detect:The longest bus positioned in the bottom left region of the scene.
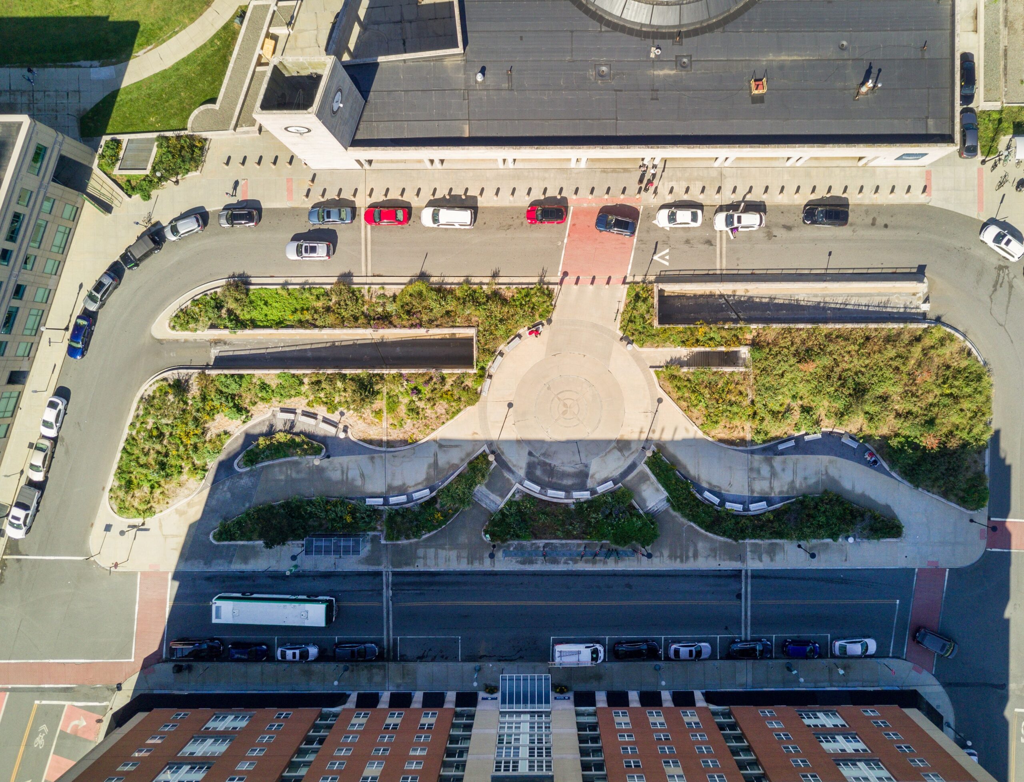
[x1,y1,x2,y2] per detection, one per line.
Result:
[210,594,335,629]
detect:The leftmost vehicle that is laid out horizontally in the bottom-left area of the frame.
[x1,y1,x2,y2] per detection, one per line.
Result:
[167,638,224,662]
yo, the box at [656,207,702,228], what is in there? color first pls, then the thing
white car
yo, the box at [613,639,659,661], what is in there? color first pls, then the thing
black car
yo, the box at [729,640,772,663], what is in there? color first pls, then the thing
black car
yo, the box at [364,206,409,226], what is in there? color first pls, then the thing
red car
